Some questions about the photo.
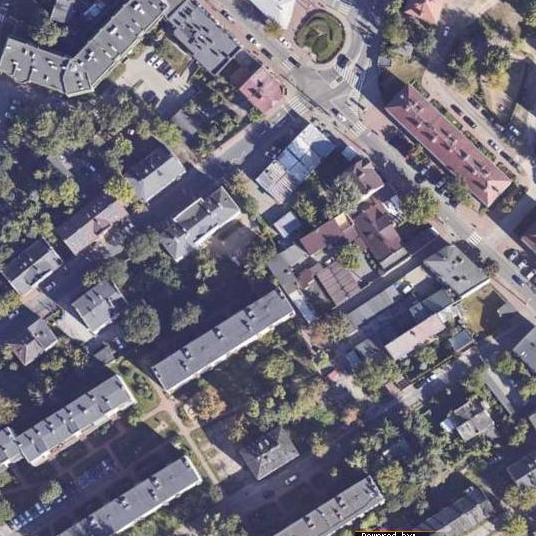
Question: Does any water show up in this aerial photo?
No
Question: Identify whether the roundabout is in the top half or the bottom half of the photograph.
top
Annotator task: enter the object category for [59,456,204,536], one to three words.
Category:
building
